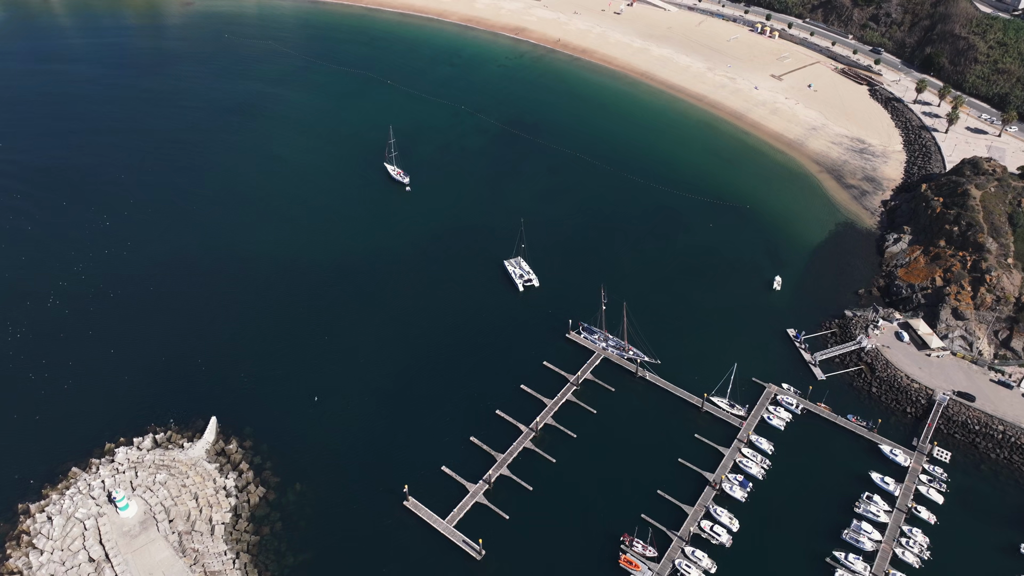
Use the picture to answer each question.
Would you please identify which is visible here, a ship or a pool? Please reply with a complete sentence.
Visible in the photo is a ship.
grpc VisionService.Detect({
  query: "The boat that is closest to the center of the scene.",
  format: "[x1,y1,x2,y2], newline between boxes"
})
[503,235,541,293]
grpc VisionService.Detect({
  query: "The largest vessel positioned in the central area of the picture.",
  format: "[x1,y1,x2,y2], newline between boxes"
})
[578,286,662,361]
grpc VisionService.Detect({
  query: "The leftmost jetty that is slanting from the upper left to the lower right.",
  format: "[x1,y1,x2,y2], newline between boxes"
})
[402,496,486,561]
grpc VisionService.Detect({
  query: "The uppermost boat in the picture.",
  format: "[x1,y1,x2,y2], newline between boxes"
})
[385,130,412,186]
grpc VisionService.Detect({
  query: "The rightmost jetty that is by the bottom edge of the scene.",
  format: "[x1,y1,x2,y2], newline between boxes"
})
[826,444,953,576]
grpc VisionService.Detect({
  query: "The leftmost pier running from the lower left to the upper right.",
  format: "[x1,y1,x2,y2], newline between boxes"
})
[443,352,614,526]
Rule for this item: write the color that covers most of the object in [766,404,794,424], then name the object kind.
white boat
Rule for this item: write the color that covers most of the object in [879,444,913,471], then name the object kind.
white boat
